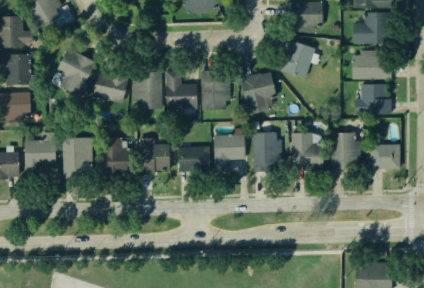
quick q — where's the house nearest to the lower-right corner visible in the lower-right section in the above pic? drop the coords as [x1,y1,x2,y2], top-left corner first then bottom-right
[355,262,392,288]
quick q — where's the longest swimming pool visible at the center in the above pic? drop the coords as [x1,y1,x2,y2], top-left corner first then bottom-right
[214,122,236,134]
